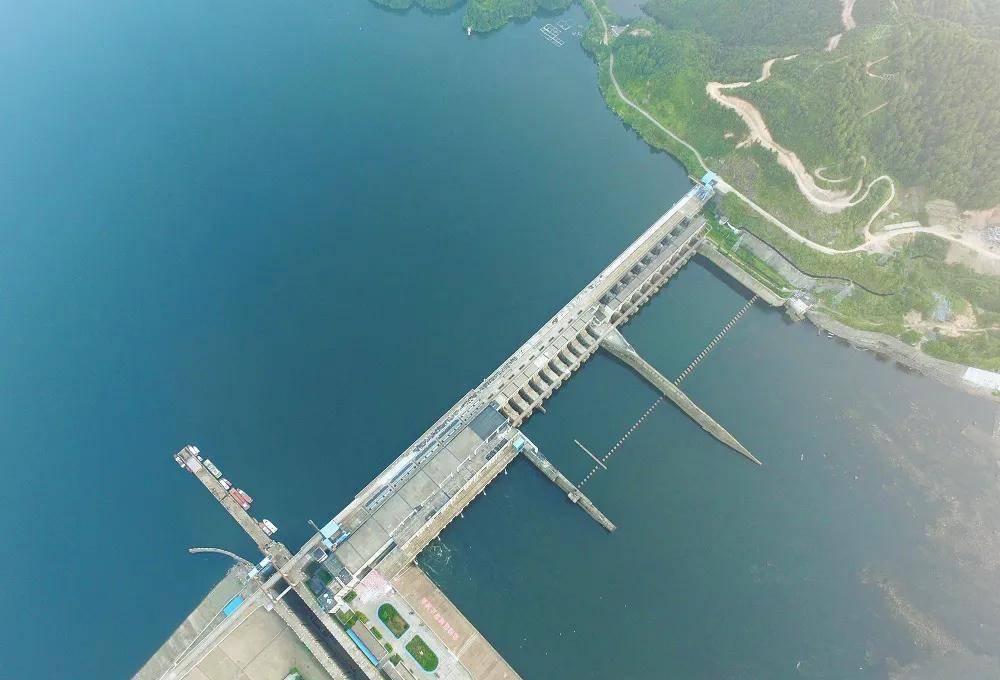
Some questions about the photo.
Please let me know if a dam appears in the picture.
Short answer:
Yes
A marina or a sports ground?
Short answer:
marina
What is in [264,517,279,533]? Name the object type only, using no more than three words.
boat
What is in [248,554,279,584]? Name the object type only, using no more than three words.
house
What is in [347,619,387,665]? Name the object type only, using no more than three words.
house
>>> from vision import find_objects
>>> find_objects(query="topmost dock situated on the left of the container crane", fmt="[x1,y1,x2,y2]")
[177,445,271,545]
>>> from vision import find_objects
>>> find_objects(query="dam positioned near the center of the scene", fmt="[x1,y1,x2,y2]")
[260,176,715,592]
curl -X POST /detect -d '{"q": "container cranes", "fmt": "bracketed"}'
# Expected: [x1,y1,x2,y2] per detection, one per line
[309,519,350,549]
